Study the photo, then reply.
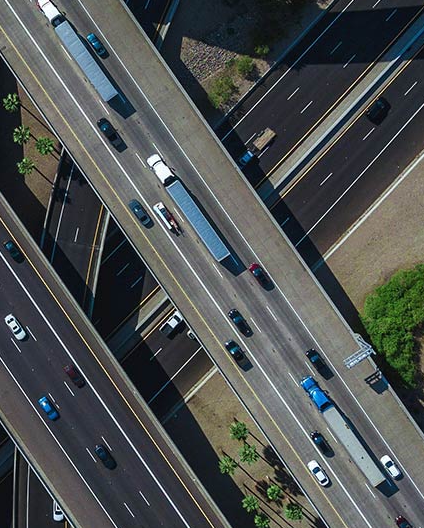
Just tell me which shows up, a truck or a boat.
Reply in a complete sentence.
It is a truck that can be seen here.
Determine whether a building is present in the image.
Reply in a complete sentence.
No, the scene contains no building.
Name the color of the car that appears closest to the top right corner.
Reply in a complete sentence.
The car that appears closest to the top right corner is black.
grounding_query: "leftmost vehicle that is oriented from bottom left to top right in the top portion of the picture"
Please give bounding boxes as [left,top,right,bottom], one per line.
[239,128,276,165]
